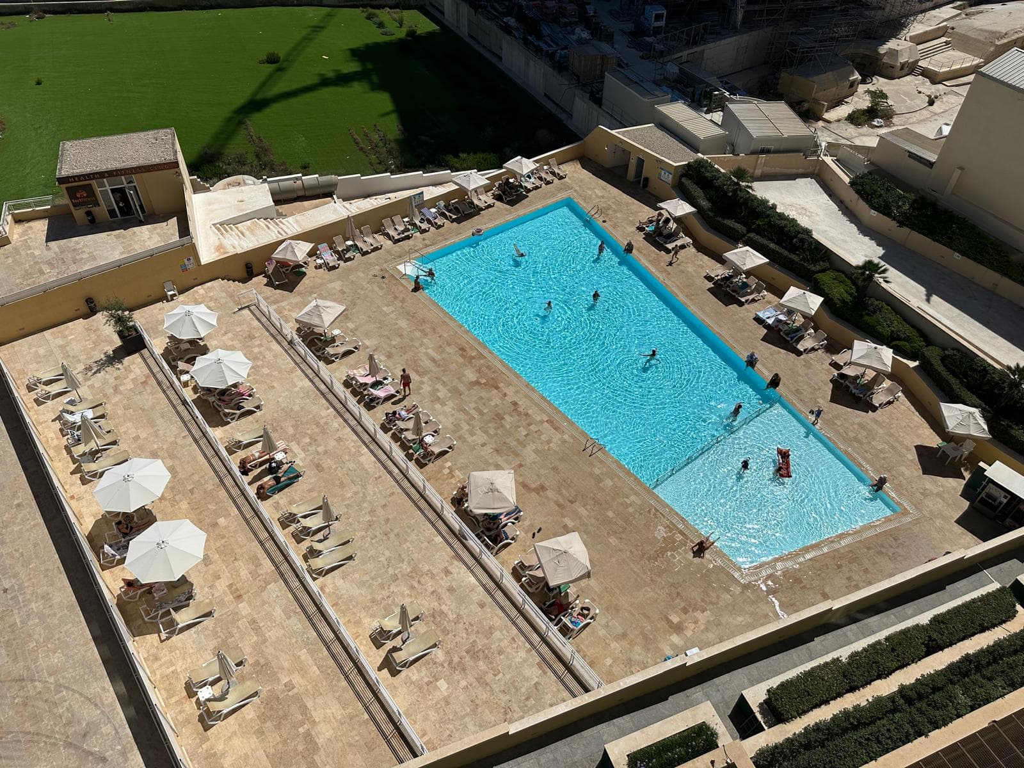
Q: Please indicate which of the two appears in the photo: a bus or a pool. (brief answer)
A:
pool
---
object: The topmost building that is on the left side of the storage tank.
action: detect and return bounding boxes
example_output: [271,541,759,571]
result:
[56,128,186,225]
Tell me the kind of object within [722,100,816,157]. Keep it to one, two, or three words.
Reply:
building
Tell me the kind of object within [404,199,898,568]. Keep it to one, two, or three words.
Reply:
swimming pool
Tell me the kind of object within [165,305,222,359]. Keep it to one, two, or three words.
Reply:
umbrella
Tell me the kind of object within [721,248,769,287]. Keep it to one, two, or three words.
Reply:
umbrella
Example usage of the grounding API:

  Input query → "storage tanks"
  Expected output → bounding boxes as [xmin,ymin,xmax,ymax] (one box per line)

[263,172,337,201]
